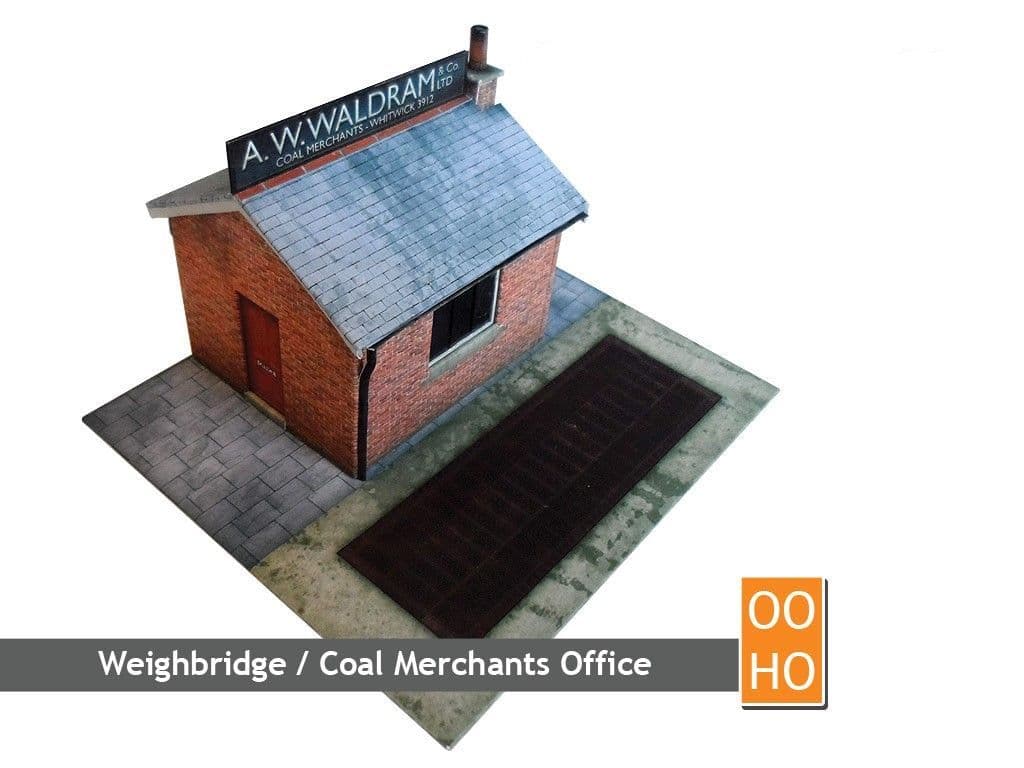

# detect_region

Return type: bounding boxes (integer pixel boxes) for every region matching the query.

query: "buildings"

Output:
[146,51,593,479]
